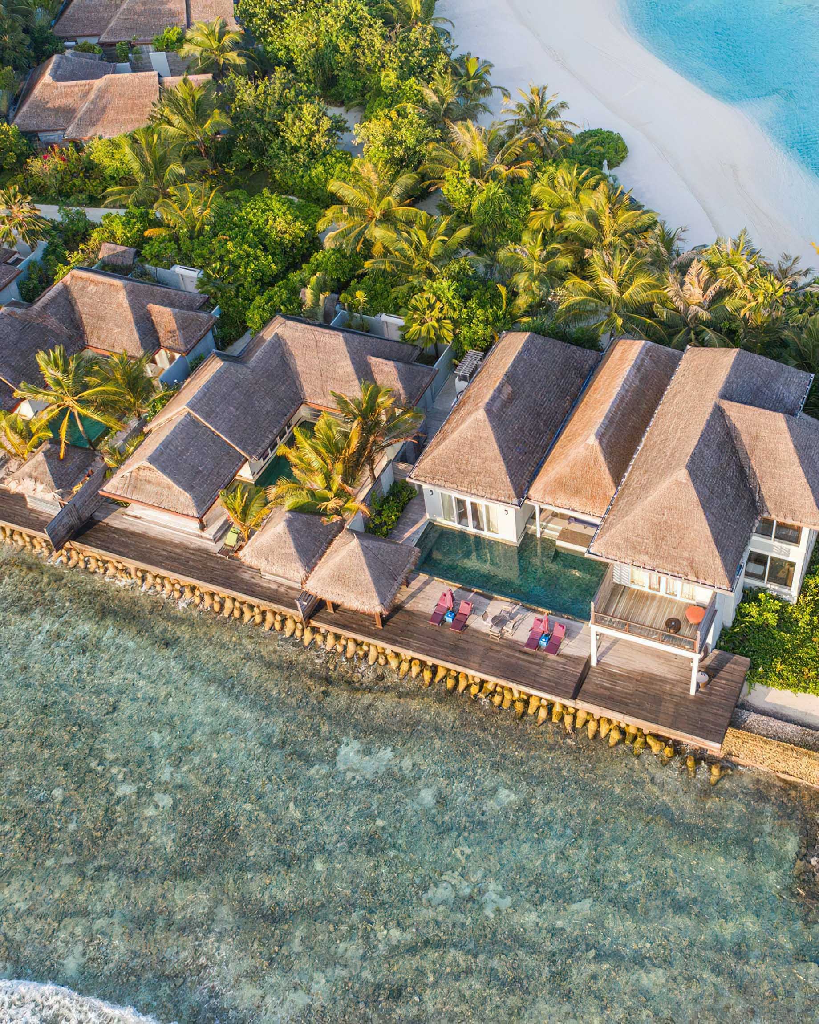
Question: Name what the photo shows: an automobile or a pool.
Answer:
pool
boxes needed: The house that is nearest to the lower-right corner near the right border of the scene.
[584,345,819,696]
